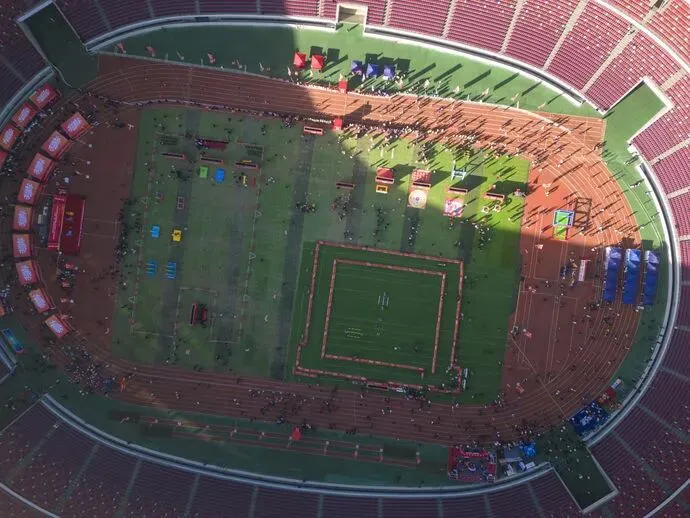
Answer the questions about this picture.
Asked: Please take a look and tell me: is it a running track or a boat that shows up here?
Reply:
running track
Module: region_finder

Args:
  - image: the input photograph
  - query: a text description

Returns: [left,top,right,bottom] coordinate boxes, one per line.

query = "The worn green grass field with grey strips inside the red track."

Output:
[111,107,530,407]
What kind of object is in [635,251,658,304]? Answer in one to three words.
tent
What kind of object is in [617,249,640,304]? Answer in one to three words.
tent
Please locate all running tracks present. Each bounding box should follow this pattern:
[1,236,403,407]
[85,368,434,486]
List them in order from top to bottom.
[4,53,644,465]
